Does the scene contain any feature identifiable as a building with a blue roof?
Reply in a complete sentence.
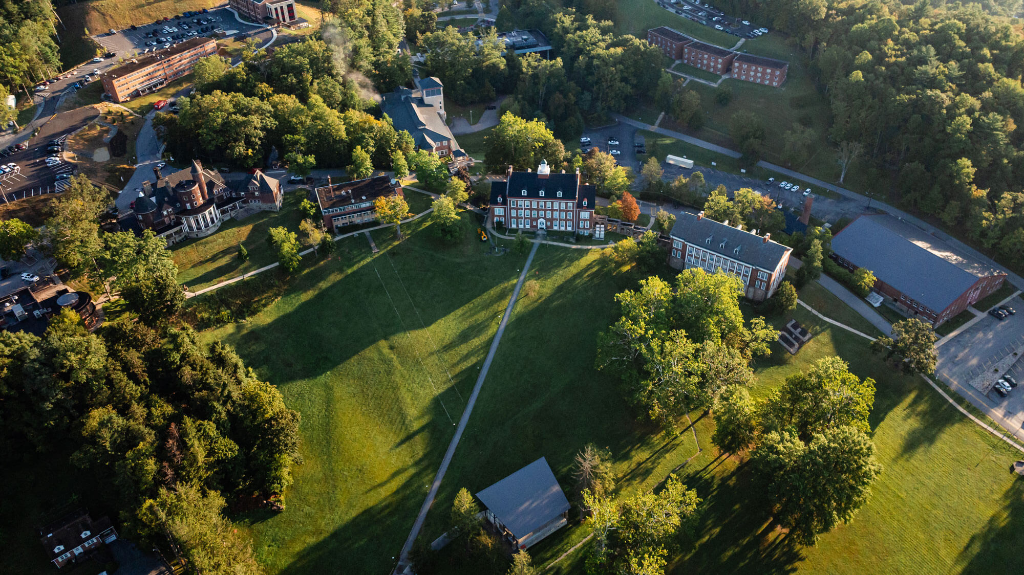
Yes, a building with a blue roof appears in the view.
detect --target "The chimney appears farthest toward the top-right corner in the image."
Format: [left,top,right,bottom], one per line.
[802,196,816,223]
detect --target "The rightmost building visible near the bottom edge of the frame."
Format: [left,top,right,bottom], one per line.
[476,457,570,551]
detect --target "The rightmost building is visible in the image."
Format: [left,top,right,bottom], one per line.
[819,215,1009,324]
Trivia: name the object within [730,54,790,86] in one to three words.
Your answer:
building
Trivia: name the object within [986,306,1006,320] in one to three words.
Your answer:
car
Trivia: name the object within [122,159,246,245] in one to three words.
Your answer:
house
